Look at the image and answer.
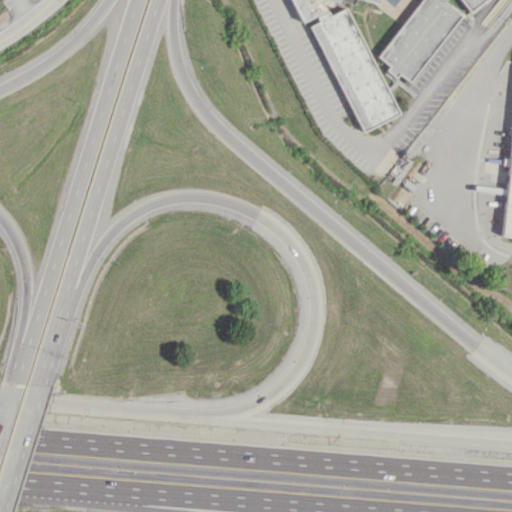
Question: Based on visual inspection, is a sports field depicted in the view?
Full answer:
No, the frame has no sports field in it.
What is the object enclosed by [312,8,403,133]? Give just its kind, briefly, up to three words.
building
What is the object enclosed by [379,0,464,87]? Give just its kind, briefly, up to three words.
building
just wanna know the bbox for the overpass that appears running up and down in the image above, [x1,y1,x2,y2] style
[0,378,56,512]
